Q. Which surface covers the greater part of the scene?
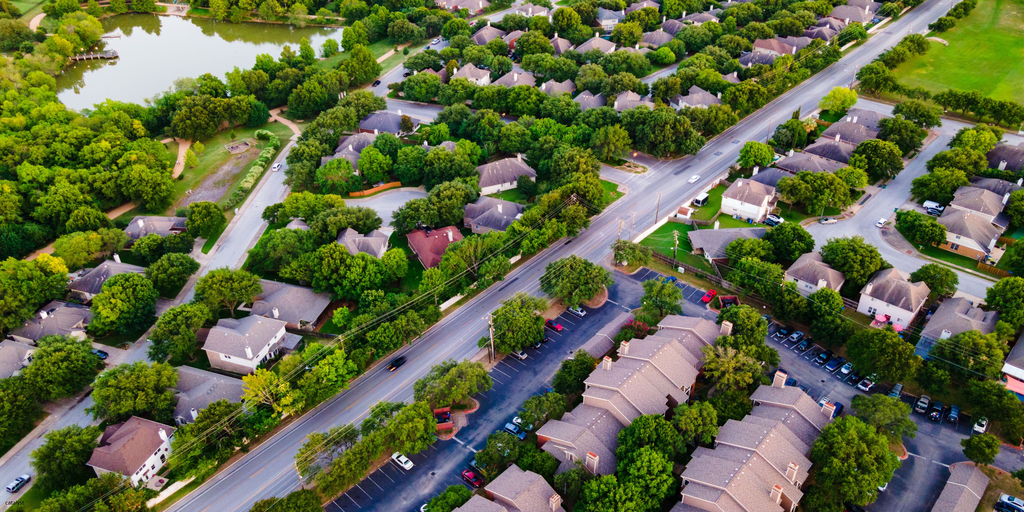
trees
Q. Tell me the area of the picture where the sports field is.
top right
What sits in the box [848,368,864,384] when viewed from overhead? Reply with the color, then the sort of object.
black car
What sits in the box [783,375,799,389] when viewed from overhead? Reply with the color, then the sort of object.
blue car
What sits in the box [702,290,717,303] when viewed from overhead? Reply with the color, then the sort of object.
red vehicle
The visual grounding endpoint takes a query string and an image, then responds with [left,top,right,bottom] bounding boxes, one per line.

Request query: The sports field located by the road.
[863,0,1024,113]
